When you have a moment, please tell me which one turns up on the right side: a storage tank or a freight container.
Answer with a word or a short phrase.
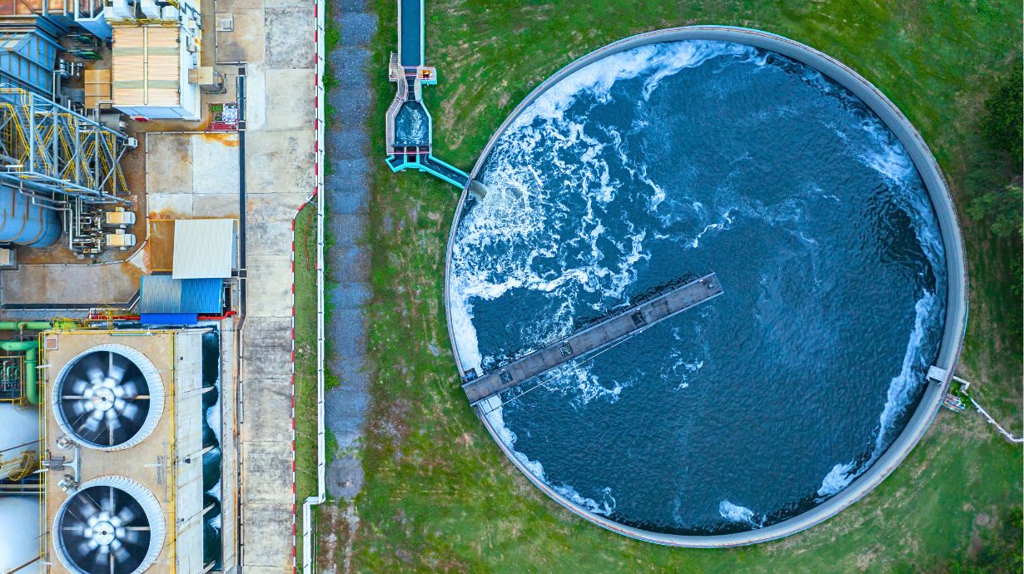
storage tank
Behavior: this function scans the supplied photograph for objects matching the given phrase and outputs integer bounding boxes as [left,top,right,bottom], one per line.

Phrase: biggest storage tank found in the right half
[444,25,968,549]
